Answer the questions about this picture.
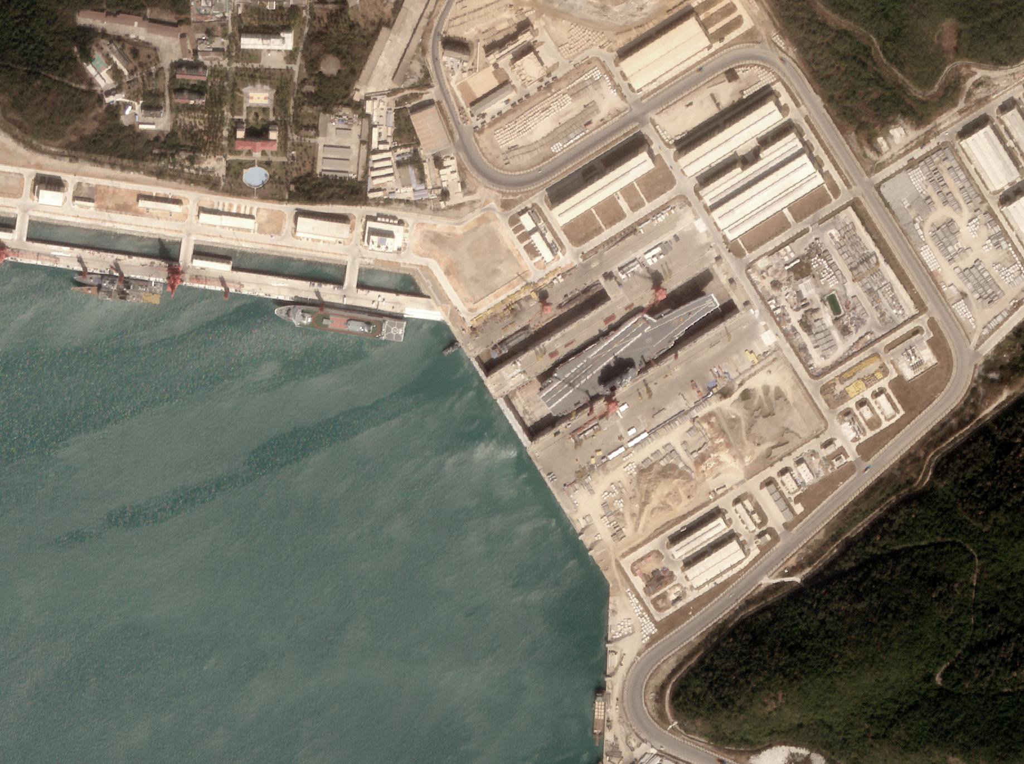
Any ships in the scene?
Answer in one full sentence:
Yes, a ship can be made out from above.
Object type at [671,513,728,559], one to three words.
building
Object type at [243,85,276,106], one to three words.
sports court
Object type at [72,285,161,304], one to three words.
ship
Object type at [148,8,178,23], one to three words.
shed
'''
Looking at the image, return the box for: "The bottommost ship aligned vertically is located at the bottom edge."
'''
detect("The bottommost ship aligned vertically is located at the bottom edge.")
[593,691,605,746]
